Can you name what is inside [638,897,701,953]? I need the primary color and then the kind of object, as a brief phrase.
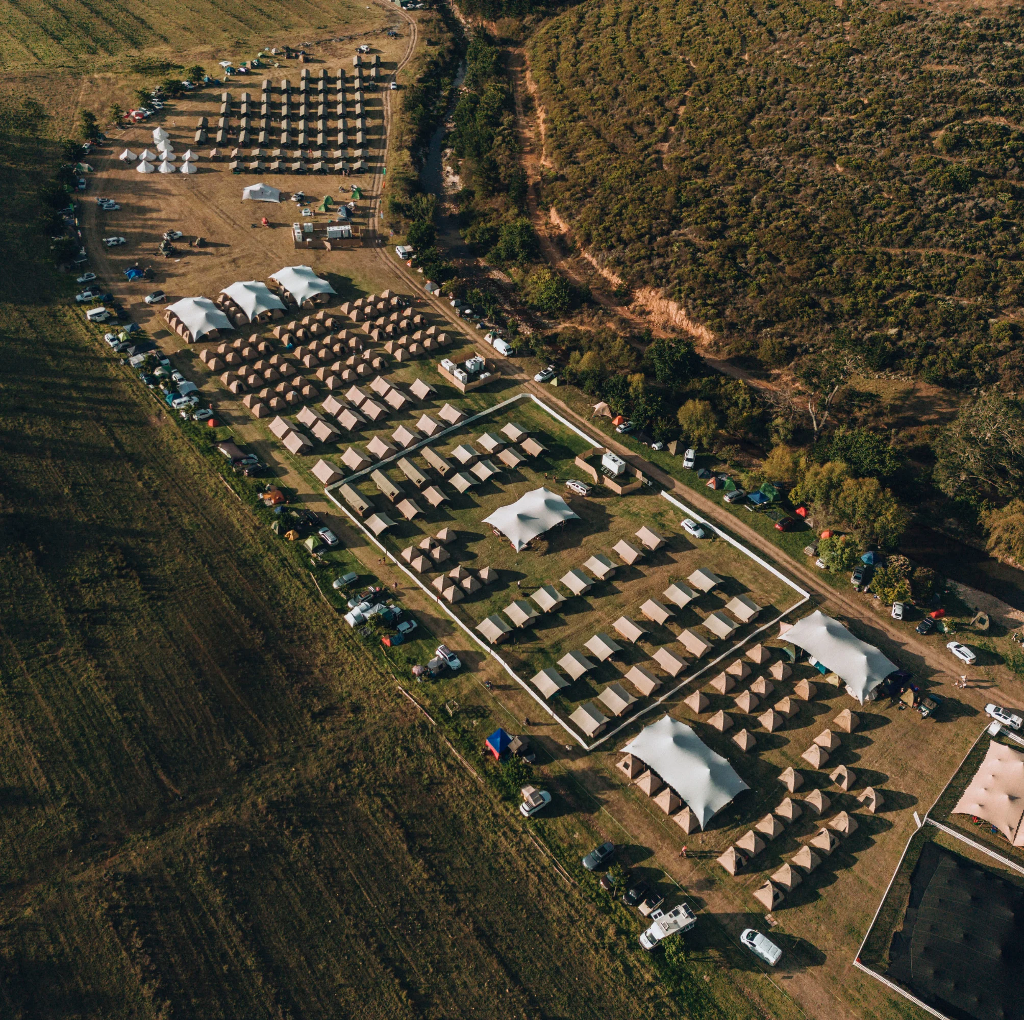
white vehicle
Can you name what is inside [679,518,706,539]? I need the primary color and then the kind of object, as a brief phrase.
white car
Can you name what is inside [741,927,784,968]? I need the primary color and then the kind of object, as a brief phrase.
white van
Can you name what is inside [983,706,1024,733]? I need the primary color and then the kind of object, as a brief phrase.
white truck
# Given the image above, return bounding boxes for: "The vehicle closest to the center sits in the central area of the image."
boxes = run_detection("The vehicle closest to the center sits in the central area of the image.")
[564,480,594,498]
